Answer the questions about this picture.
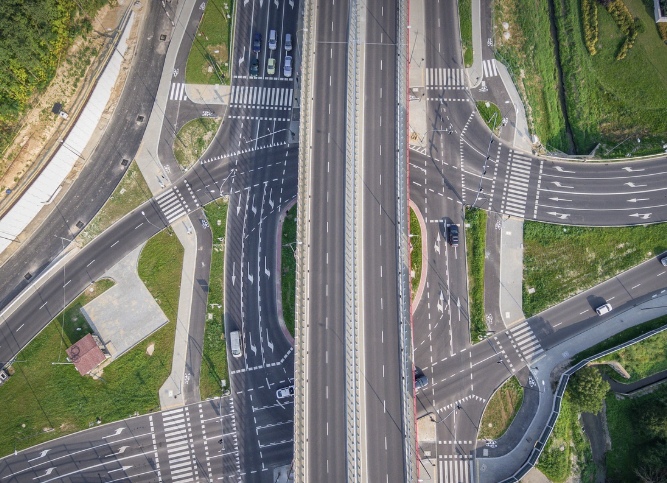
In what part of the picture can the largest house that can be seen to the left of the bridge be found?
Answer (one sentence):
You can find the largest house that can be seen to the left of the bridge in the bottom left area of the picture.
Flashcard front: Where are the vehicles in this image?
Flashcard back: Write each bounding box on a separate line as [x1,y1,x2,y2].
[283,57,292,77]
[252,33,262,53]
[283,34,292,51]
[275,385,295,399]
[228,331,242,358]
[416,374,429,388]
[249,59,259,78]
[268,31,277,50]
[266,58,276,76]
[449,225,459,247]
[594,301,615,316]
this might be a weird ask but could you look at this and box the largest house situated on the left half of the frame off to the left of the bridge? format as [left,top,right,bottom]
[66,333,109,376]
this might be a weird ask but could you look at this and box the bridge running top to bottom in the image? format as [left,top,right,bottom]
[293,0,420,483]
